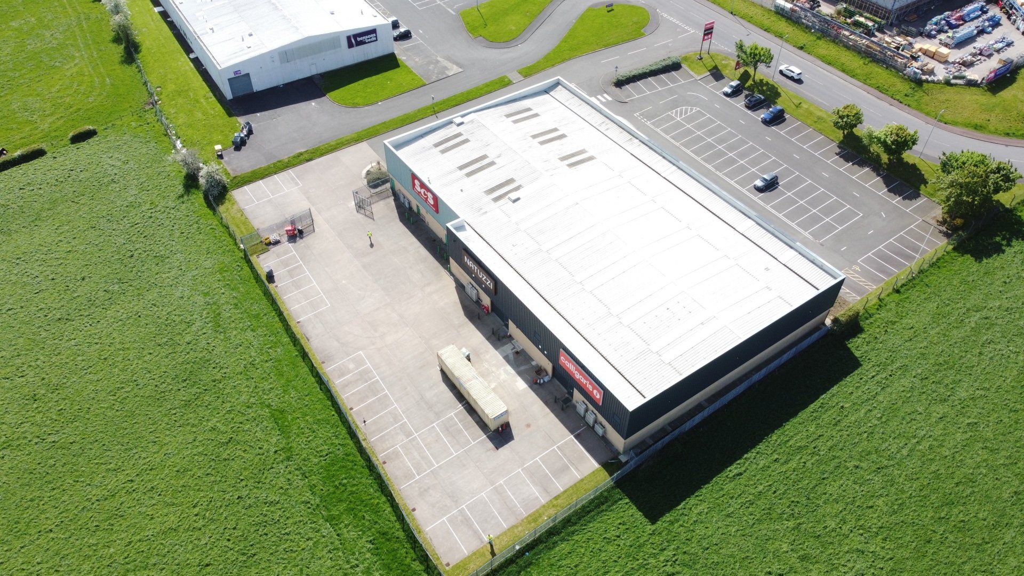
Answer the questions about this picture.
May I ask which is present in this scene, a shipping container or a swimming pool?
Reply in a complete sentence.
Visible in the photo is a shipping container.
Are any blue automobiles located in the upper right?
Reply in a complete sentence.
Yes, you'll find a blue automobile in the upper right.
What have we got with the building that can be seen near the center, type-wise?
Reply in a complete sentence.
The building that can be seen near the center appears to be a warehouse.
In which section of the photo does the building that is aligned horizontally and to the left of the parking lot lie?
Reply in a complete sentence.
The building that is aligned horizontally and to the left of the parking lot sits in the top left section of the image.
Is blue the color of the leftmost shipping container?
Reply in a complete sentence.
No, the color of the leftmost shipping container is white.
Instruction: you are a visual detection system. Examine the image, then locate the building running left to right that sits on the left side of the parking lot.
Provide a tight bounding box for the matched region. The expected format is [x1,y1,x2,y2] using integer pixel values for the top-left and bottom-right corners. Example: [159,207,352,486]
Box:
[151,0,395,99]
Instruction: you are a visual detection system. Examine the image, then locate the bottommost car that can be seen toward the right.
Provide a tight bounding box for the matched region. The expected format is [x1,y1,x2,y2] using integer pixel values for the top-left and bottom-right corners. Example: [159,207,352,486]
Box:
[751,170,779,191]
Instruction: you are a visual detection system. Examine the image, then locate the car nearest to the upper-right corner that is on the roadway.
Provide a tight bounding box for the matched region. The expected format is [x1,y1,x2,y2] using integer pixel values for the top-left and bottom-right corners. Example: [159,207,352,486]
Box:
[778,67,804,82]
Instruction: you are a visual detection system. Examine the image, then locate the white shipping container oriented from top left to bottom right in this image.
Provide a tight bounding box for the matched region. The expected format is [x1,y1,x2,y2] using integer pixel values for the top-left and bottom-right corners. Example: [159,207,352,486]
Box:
[437,344,509,431]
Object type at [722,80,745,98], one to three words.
car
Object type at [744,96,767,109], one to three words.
vehicle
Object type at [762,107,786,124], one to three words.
car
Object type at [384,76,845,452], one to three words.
warehouse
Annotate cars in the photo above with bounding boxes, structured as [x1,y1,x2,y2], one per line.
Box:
[393,29,414,44]
[744,96,767,109]
[762,107,786,124]
[751,170,779,191]
[778,67,804,82]
[722,80,745,98]
[389,19,399,30]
